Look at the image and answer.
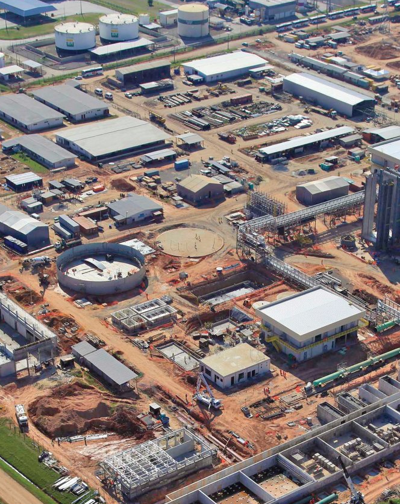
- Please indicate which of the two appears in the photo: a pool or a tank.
tank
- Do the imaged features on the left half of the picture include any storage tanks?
Yes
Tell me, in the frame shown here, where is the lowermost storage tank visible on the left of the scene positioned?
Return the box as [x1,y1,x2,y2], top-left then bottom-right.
[55,243,146,295]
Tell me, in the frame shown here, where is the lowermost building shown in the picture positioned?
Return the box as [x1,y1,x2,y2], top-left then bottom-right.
[94,427,215,501]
